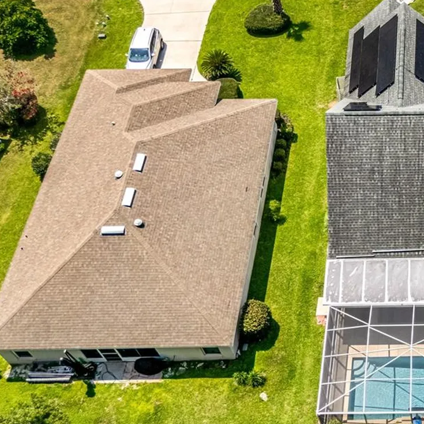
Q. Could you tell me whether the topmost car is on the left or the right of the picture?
left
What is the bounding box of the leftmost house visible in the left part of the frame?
[0,68,280,363]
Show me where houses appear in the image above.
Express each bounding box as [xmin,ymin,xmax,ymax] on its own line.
[0,68,280,363]
[317,0,424,310]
